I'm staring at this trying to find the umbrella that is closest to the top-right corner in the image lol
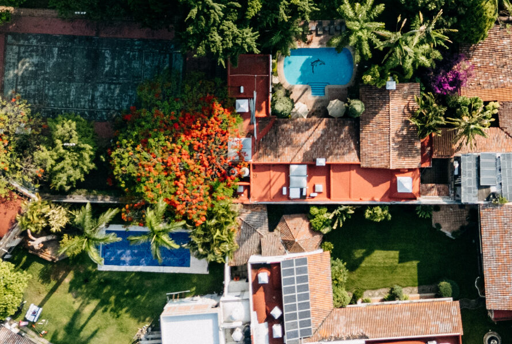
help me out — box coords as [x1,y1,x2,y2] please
[327,97,346,118]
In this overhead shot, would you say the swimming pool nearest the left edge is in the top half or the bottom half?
bottom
